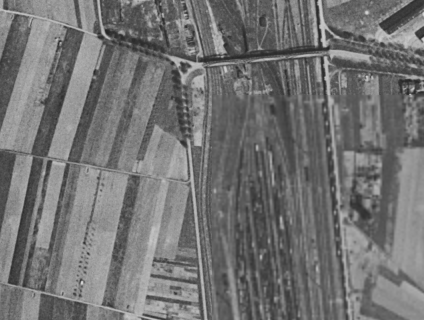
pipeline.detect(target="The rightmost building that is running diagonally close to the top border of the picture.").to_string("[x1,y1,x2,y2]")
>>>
[384,0,424,31]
